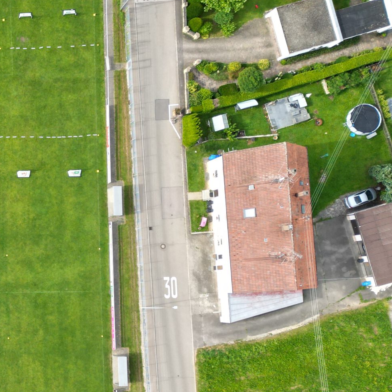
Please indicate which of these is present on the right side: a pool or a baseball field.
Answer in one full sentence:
You can see a pool on the right side.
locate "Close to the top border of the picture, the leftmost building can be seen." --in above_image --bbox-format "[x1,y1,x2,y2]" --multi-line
[267,0,350,59]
